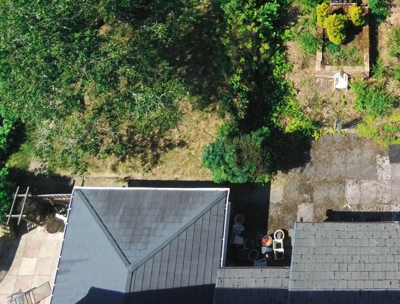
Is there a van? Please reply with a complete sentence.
No, I can't see a single van in this photo.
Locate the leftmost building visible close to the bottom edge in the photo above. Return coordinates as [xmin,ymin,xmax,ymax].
[47,186,235,304]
